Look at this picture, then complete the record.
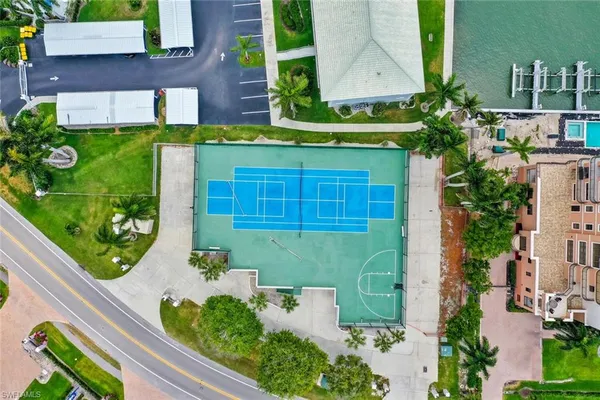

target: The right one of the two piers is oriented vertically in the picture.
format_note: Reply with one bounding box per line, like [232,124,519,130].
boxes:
[571,61,589,113]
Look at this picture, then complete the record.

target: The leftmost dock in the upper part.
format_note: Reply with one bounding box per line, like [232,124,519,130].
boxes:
[530,60,546,113]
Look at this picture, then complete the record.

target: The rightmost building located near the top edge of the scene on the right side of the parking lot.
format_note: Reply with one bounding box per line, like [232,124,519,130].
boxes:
[312,0,425,113]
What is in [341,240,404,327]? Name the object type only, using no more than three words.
basketball court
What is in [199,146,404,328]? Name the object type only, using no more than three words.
tennis court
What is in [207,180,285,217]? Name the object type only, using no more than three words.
sports court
